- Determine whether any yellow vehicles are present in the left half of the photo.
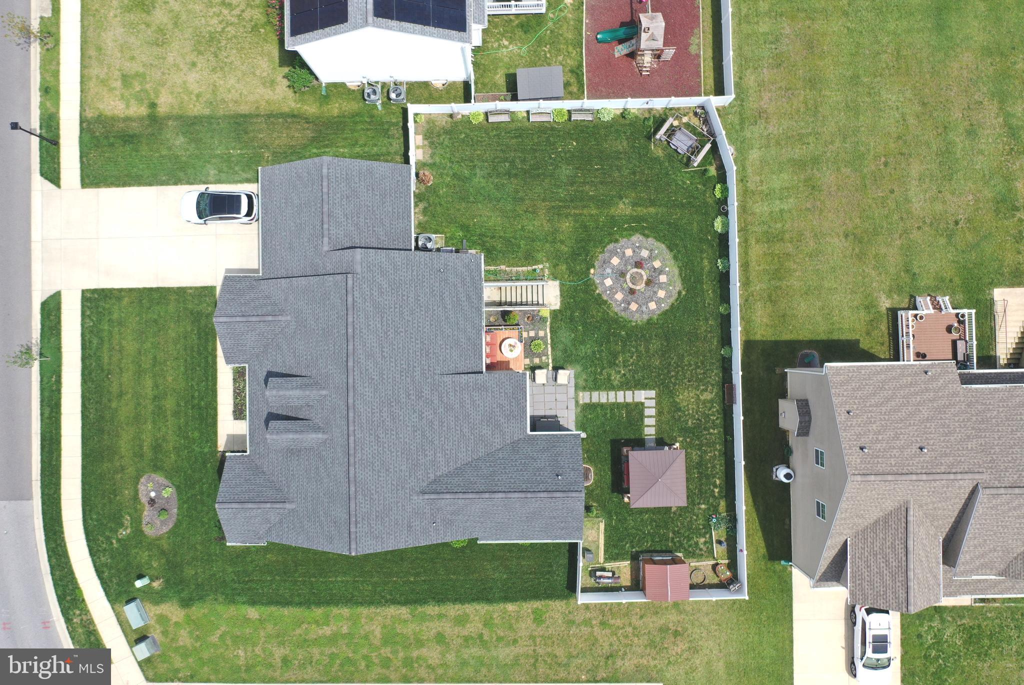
No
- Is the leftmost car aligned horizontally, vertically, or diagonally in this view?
horizontally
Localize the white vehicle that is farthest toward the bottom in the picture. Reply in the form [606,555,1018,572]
[851,604,896,685]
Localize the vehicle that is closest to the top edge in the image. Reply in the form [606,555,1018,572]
[180,186,257,226]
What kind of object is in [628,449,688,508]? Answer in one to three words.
gazebo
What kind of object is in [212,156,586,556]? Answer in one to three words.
house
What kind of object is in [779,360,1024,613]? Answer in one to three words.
house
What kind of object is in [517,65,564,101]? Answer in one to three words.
shed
